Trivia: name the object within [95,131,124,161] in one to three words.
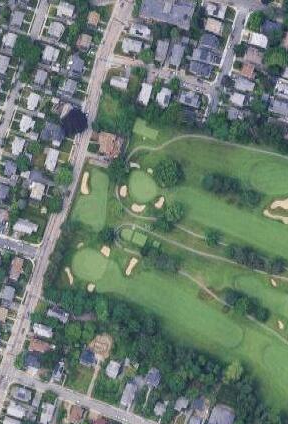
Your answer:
building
